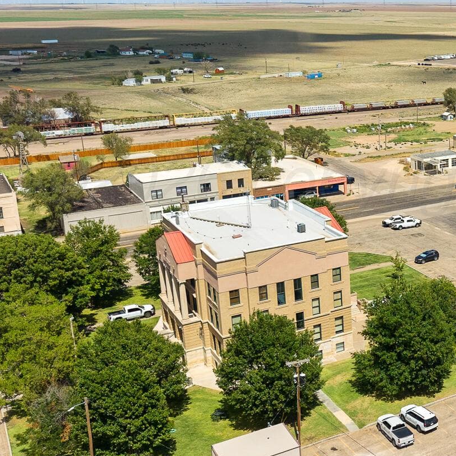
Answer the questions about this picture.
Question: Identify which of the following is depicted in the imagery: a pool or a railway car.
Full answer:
Of the two, only a railway car appears.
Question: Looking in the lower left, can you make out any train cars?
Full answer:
No, the scene shows no train car in the lower left.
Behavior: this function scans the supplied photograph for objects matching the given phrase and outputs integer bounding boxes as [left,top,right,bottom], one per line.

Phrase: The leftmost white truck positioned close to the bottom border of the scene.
[376,415,417,446]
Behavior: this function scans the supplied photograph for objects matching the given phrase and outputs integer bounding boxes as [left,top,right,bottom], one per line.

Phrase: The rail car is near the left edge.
[1,121,96,141]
